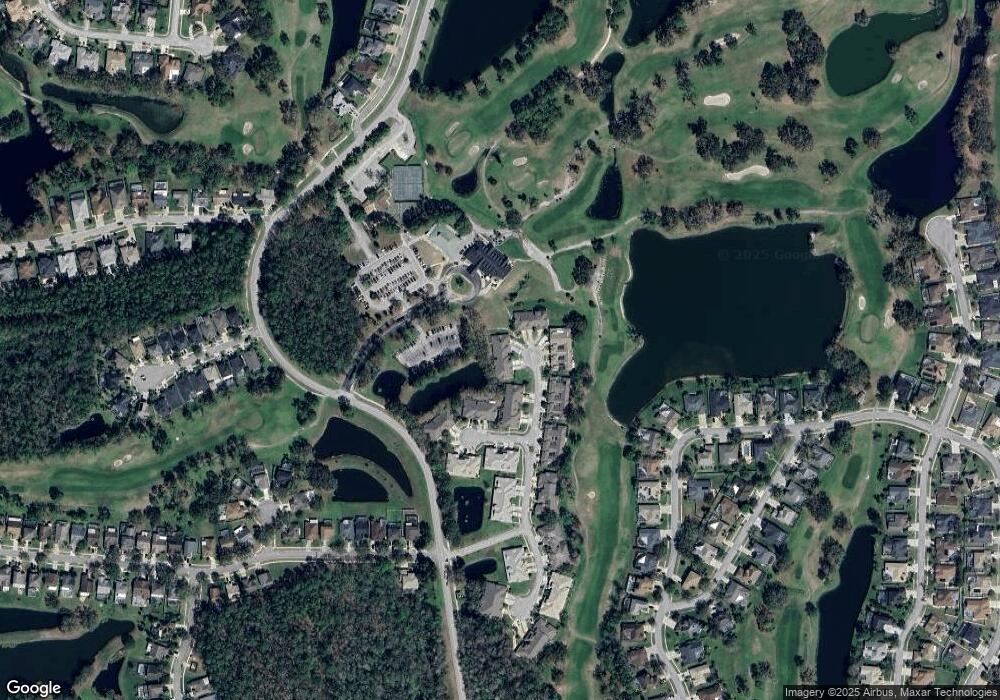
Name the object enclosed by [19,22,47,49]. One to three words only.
house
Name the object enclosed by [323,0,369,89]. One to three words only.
pond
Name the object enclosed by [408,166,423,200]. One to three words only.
tennis court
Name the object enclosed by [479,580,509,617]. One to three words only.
building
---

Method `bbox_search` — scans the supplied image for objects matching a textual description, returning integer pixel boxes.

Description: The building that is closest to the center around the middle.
[489,335,511,382]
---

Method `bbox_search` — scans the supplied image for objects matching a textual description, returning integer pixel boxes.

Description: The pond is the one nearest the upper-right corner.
[869,0,988,218]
